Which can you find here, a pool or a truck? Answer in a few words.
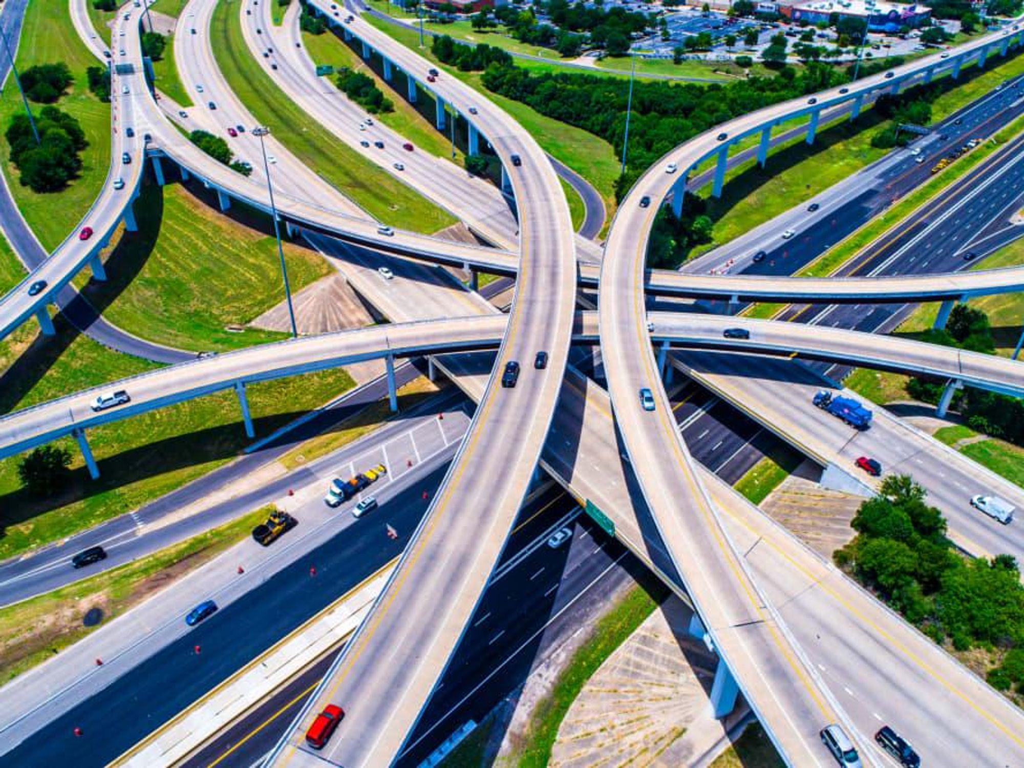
truck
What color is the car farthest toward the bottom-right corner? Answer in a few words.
black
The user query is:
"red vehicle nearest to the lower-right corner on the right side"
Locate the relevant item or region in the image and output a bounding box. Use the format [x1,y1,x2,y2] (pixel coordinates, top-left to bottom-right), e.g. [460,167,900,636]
[854,458,884,477]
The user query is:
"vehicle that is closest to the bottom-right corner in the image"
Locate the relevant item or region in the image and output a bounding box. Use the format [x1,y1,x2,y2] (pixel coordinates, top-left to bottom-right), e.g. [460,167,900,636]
[871,724,920,768]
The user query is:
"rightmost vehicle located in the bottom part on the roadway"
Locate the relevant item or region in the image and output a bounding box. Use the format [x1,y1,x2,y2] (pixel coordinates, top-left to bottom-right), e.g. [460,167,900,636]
[968,497,1020,527]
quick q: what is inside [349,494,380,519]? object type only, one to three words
vehicle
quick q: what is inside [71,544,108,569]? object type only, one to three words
car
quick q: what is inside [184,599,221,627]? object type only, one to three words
car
